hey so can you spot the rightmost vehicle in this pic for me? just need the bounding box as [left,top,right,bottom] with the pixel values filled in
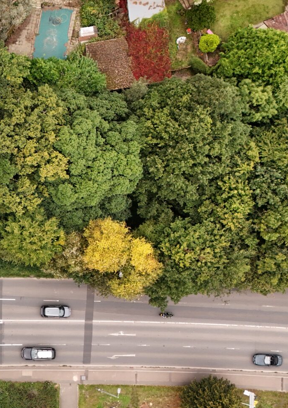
[250,352,283,368]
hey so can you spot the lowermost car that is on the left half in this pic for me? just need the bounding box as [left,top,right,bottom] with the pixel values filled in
[20,345,57,362]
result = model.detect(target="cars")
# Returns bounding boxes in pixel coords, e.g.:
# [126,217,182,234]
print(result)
[20,345,57,362]
[39,304,71,320]
[250,352,283,368]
